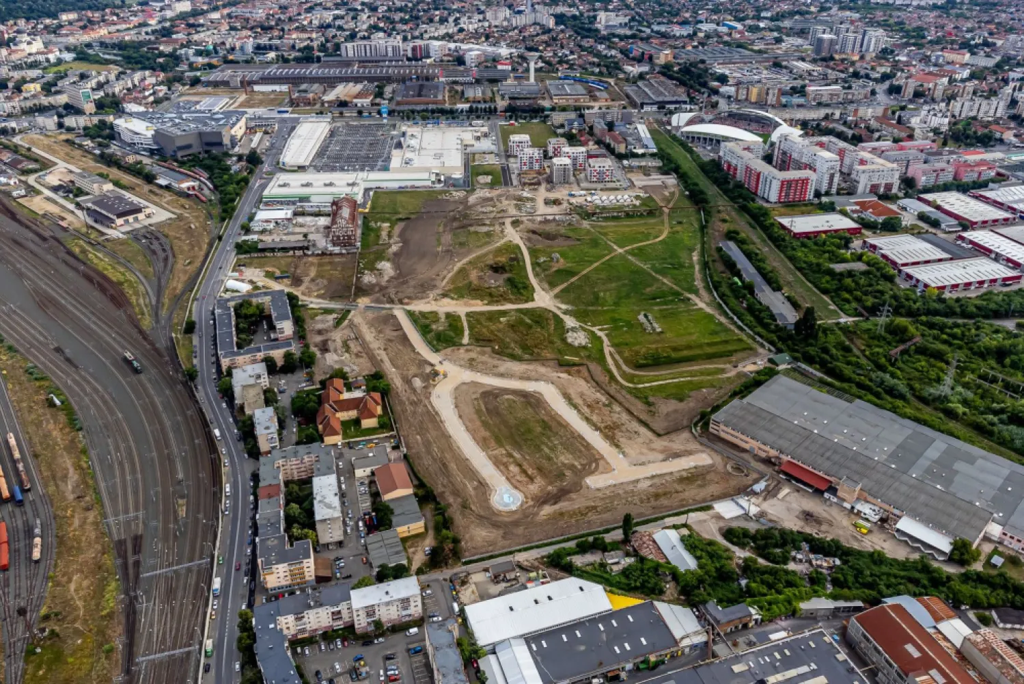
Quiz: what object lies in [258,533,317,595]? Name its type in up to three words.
building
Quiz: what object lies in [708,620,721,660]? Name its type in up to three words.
chimney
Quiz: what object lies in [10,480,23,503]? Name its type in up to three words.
rail car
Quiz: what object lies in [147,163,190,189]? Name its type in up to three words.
shed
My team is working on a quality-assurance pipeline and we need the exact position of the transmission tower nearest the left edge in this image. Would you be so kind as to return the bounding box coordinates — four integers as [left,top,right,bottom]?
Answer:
[874,301,894,335]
